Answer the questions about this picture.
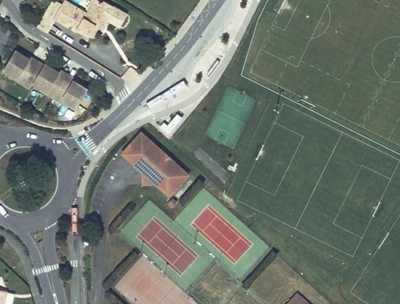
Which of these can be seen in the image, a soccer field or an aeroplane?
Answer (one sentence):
It is a soccer field that can be seen here.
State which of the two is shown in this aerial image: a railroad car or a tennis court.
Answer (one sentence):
Visible in the photo is a tennis court.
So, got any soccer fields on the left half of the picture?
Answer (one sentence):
No, the scene shows no soccer field on the left half of the picture.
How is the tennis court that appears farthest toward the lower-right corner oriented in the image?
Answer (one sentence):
From this overhead view, the tennis court that appears farthest toward the lower-right corner appears to run on a diagonal.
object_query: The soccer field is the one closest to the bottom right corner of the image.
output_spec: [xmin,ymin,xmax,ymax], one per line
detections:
[351,211,400,304]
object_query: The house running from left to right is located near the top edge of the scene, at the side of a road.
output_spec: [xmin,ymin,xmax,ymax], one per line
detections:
[37,0,130,39]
